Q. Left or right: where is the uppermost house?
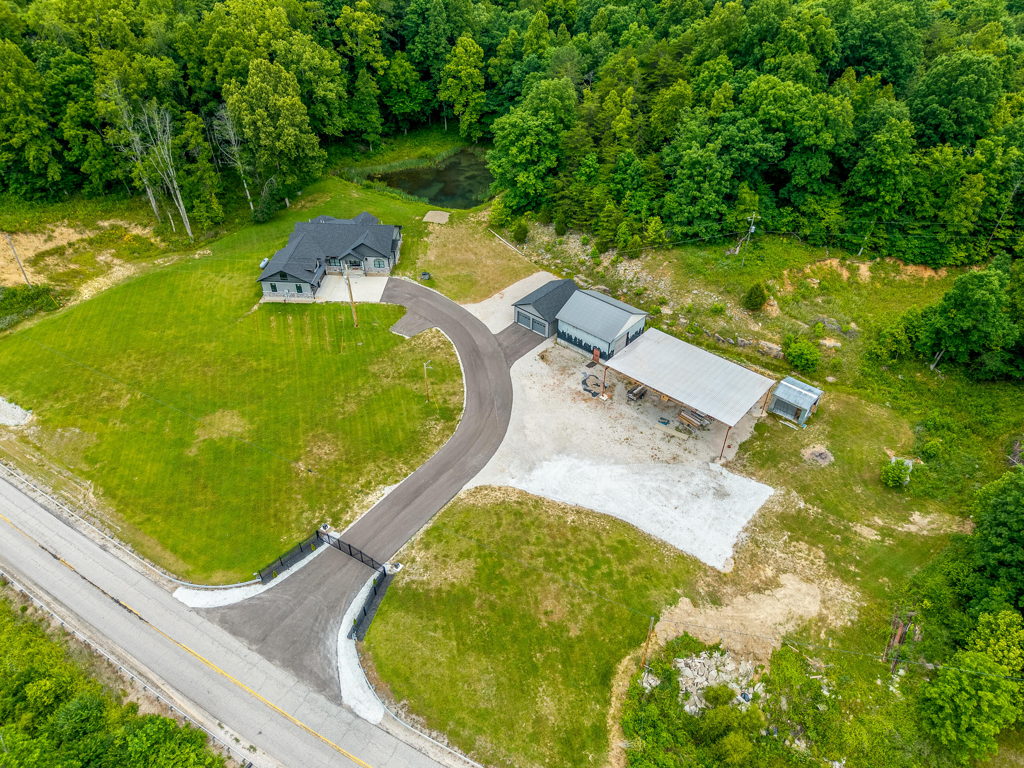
left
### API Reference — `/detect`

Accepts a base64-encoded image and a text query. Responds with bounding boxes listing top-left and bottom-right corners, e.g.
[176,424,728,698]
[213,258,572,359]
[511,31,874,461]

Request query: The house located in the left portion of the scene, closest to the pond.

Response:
[256,211,407,301]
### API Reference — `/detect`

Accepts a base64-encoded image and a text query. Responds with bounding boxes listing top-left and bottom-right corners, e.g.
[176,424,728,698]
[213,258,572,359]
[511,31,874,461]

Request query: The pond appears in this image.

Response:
[369,149,502,206]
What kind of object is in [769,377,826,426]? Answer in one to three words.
shed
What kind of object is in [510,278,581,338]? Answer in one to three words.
building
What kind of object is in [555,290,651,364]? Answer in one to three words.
barn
